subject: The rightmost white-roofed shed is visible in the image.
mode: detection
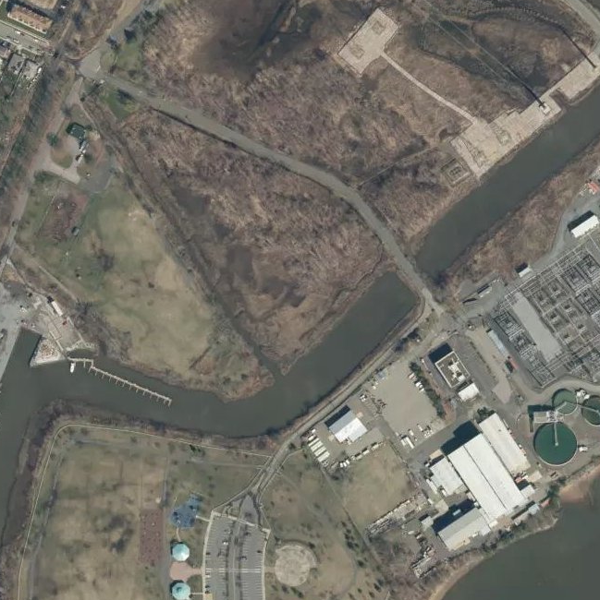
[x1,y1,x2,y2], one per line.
[570,214,600,238]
